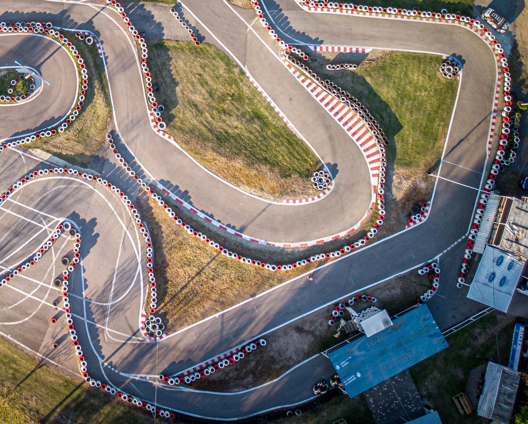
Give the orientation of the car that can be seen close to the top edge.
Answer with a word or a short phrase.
on a diagonal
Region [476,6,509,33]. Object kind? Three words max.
car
